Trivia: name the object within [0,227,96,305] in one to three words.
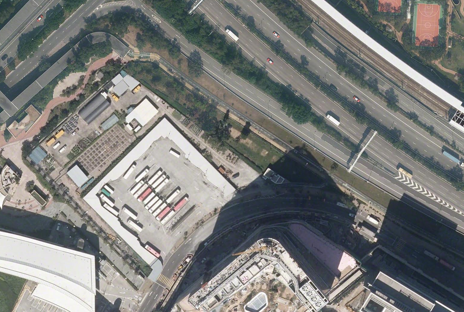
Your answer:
building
